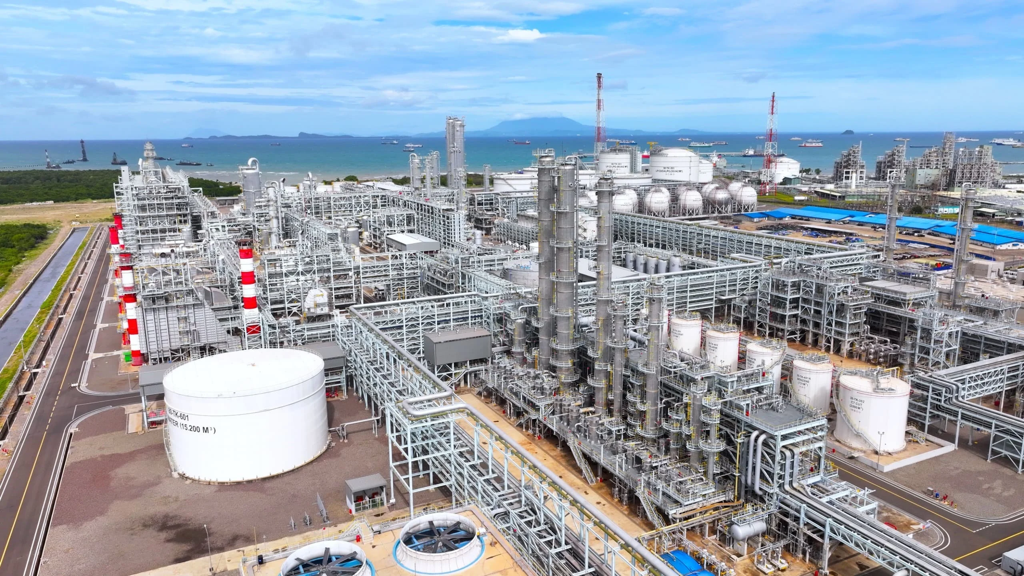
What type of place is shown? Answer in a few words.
industrial area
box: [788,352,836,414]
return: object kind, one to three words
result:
storage tank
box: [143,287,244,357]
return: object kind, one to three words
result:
building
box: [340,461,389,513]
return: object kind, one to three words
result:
shed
